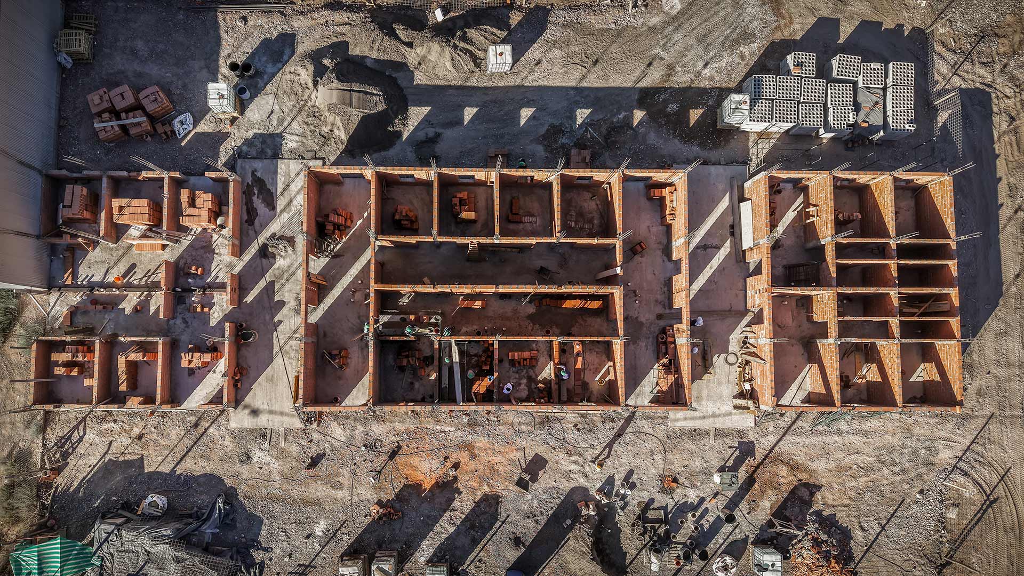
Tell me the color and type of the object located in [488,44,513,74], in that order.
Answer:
white water tank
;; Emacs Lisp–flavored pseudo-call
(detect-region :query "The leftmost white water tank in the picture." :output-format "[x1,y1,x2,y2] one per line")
[207,79,238,111]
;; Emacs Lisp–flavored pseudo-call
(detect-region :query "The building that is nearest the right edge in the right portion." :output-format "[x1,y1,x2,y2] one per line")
[746,161,979,413]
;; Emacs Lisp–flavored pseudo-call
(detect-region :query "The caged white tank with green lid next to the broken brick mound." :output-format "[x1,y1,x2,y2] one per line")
[750,542,781,574]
